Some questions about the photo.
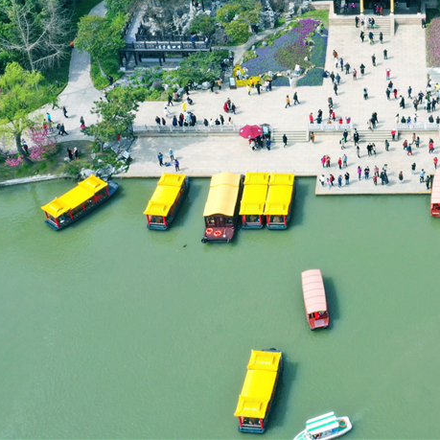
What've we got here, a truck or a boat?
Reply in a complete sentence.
This aerial view contains a boat.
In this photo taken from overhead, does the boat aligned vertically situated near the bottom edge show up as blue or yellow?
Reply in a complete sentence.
The boat aligned vertically situated near the bottom edge looks yellow in the image.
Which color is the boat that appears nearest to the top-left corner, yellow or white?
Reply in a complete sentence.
From above, the boat that appears nearest to the top-left corner appears yellow.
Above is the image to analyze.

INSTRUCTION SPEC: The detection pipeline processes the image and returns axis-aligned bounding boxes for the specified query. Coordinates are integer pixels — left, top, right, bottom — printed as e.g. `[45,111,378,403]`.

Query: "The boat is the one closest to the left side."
[39,175,113,236]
